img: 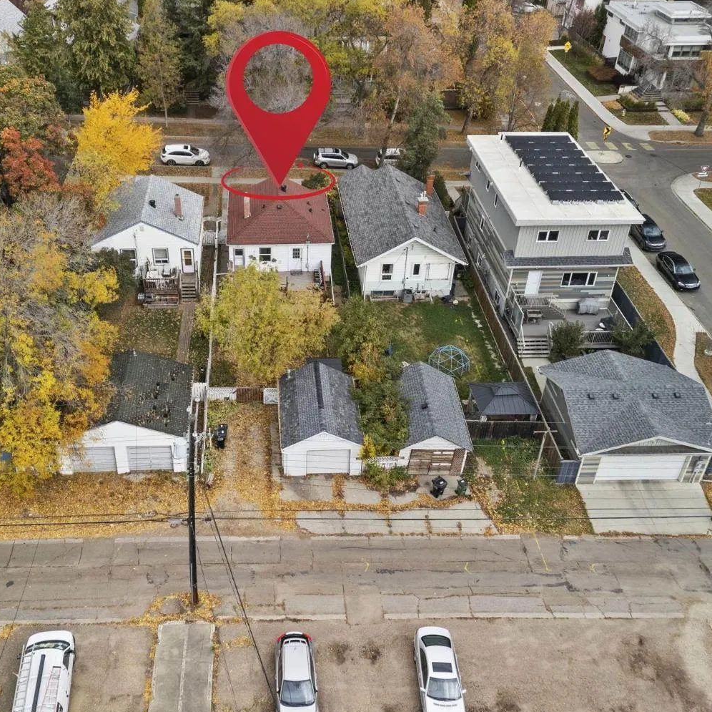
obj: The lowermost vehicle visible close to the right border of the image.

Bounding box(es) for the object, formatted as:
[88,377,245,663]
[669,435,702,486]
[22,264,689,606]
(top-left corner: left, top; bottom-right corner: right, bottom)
[651,255,703,293]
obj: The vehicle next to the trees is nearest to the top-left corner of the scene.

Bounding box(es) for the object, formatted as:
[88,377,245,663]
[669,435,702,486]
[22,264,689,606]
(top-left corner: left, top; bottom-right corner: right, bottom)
[163,145,208,165]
